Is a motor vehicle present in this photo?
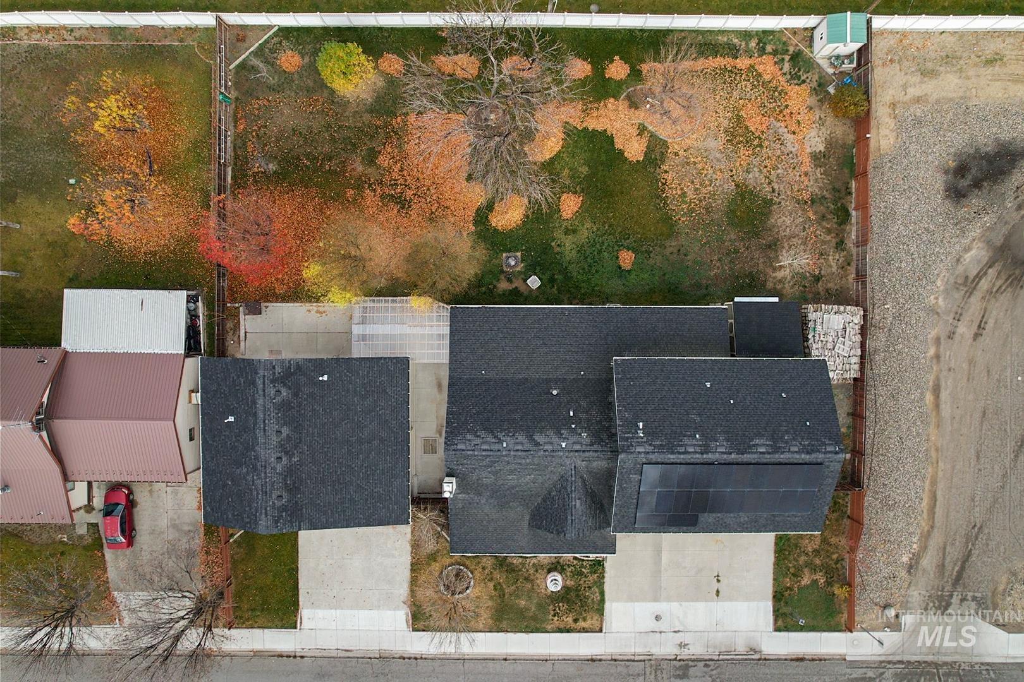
Yes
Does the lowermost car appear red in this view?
Yes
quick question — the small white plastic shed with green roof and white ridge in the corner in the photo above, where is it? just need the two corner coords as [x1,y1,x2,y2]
[815,8,868,57]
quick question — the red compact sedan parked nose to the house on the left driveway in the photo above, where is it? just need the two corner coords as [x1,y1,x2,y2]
[98,486,136,550]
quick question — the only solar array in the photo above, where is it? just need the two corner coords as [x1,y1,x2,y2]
[637,466,825,529]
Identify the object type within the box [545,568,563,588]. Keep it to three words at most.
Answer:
fountain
